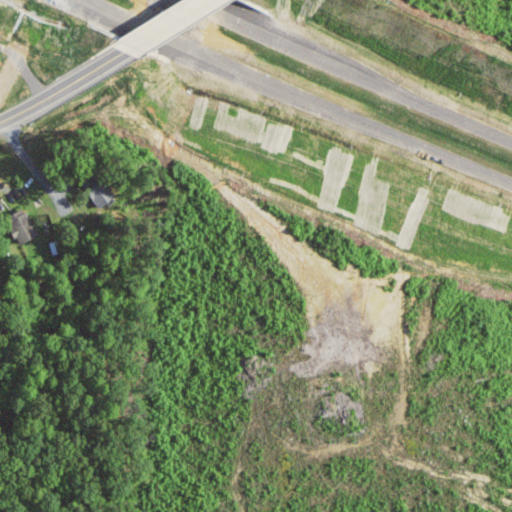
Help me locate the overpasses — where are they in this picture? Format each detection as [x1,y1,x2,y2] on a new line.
[83,0,273,66]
